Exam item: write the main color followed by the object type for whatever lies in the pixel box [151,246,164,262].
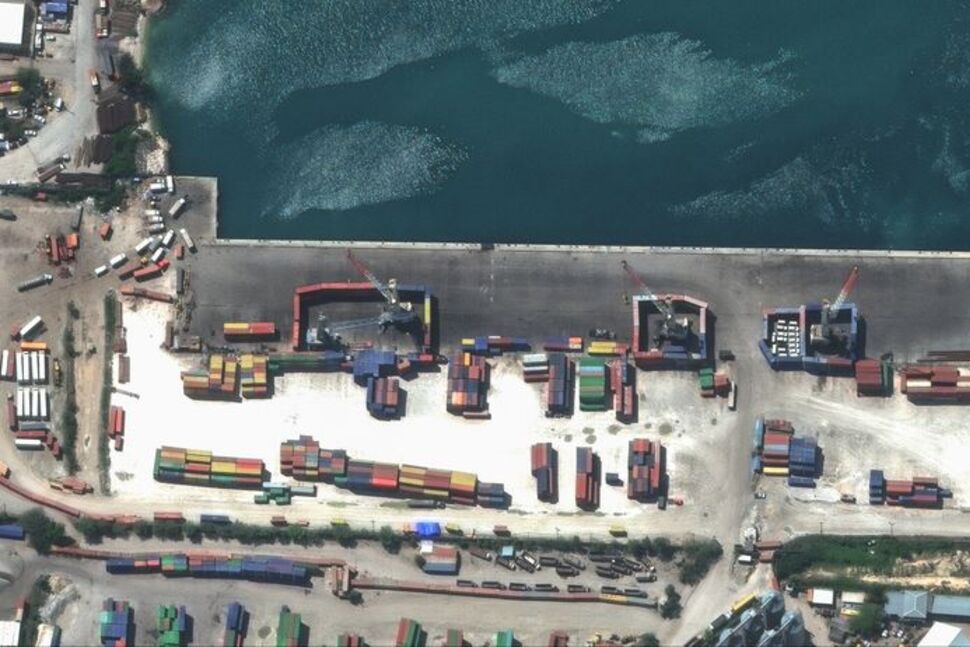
white vehicle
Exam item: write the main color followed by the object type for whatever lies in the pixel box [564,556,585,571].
gray vehicle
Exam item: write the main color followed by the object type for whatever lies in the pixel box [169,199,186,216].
white vehicle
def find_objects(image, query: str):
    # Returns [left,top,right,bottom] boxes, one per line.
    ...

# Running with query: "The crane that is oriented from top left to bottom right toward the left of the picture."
[347,254,414,326]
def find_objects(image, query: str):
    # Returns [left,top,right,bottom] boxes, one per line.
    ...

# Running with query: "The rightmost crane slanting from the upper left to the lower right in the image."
[621,261,691,344]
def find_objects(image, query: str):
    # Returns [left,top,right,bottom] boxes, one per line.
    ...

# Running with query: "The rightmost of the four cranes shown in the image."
[808,266,857,345]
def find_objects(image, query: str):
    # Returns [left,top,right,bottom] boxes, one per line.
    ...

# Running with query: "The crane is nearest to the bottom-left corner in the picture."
[301,316,395,350]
